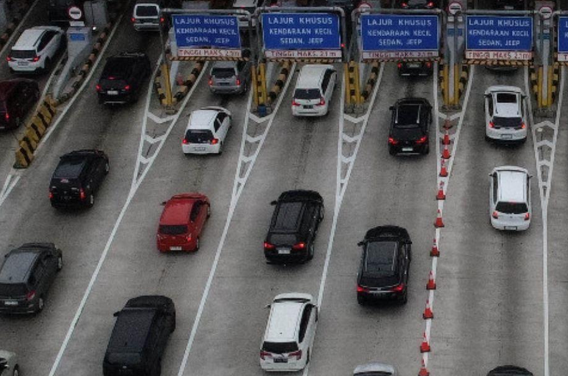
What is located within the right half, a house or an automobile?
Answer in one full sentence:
What appears within the right half is an automobile.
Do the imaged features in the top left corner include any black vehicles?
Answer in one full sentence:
Yes, the scene does show a black vehicle in the top left corner.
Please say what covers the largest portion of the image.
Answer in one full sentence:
For the most part, this view shows paved ground.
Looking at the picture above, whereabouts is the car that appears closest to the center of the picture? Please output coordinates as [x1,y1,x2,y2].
[262,184,325,262]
